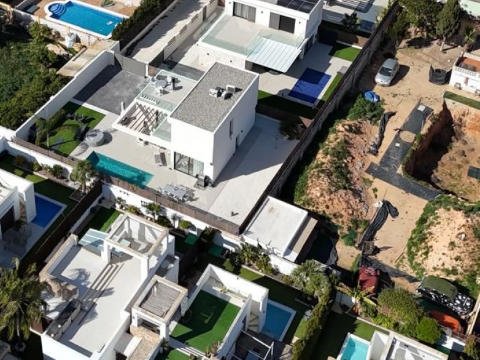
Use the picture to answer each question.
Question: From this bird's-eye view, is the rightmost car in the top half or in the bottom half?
bottom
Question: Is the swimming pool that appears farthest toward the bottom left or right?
right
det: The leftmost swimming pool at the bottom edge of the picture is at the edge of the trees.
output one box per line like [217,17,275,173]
[265,300,298,344]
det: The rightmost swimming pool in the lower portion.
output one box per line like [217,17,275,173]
[334,330,376,360]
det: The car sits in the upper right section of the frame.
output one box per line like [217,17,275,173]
[374,55,399,85]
